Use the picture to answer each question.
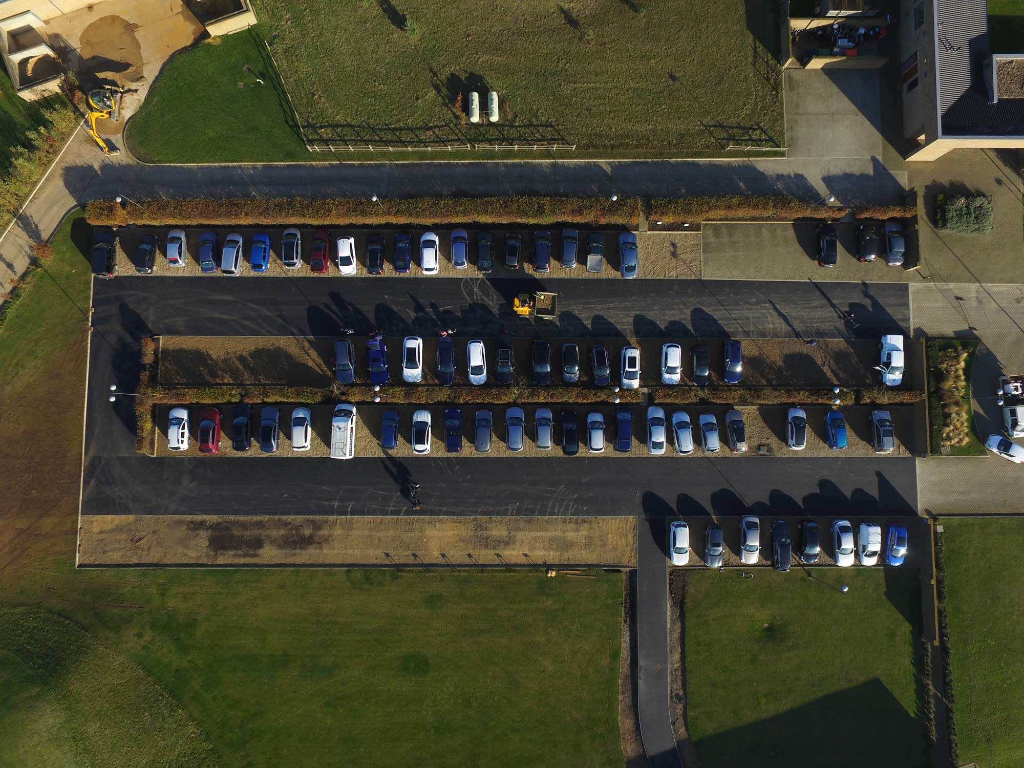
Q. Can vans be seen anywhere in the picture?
Yes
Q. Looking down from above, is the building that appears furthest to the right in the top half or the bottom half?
top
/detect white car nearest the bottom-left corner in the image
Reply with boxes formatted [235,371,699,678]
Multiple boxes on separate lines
[166,406,194,452]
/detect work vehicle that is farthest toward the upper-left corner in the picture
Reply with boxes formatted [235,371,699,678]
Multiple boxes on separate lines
[84,85,124,160]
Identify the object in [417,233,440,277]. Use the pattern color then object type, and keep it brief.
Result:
white car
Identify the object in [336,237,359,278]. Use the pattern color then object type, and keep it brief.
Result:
white car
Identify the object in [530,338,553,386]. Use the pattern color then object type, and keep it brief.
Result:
black car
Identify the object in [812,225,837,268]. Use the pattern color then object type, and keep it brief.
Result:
black car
